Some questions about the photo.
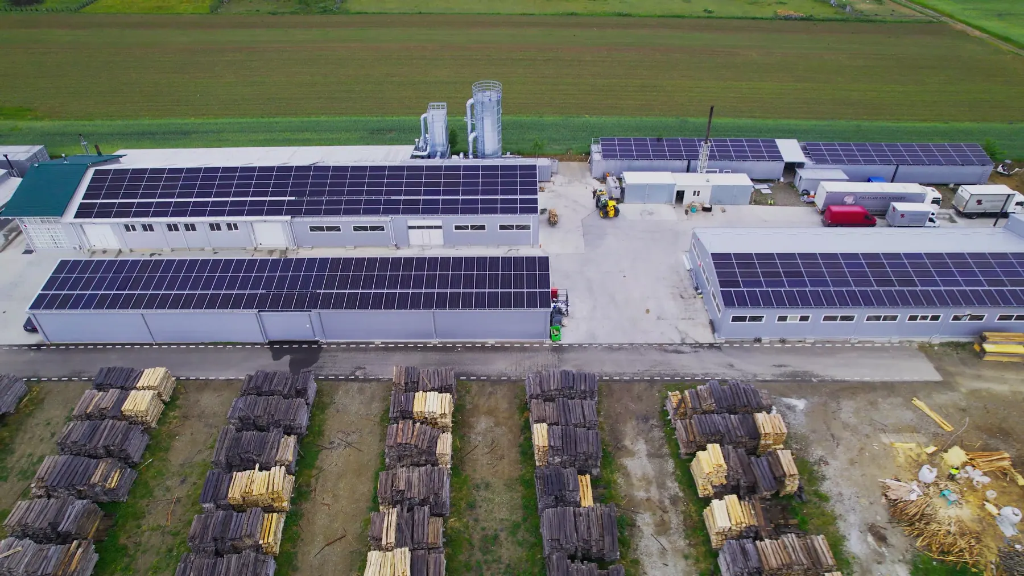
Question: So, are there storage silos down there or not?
Yes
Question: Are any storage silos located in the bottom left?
No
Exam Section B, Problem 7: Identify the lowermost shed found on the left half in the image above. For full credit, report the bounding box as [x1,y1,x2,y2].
[26,255,552,344]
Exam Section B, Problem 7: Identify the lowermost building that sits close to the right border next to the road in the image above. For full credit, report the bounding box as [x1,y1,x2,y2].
[689,208,1024,345]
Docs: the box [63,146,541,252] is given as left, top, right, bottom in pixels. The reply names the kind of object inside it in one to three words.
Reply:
building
